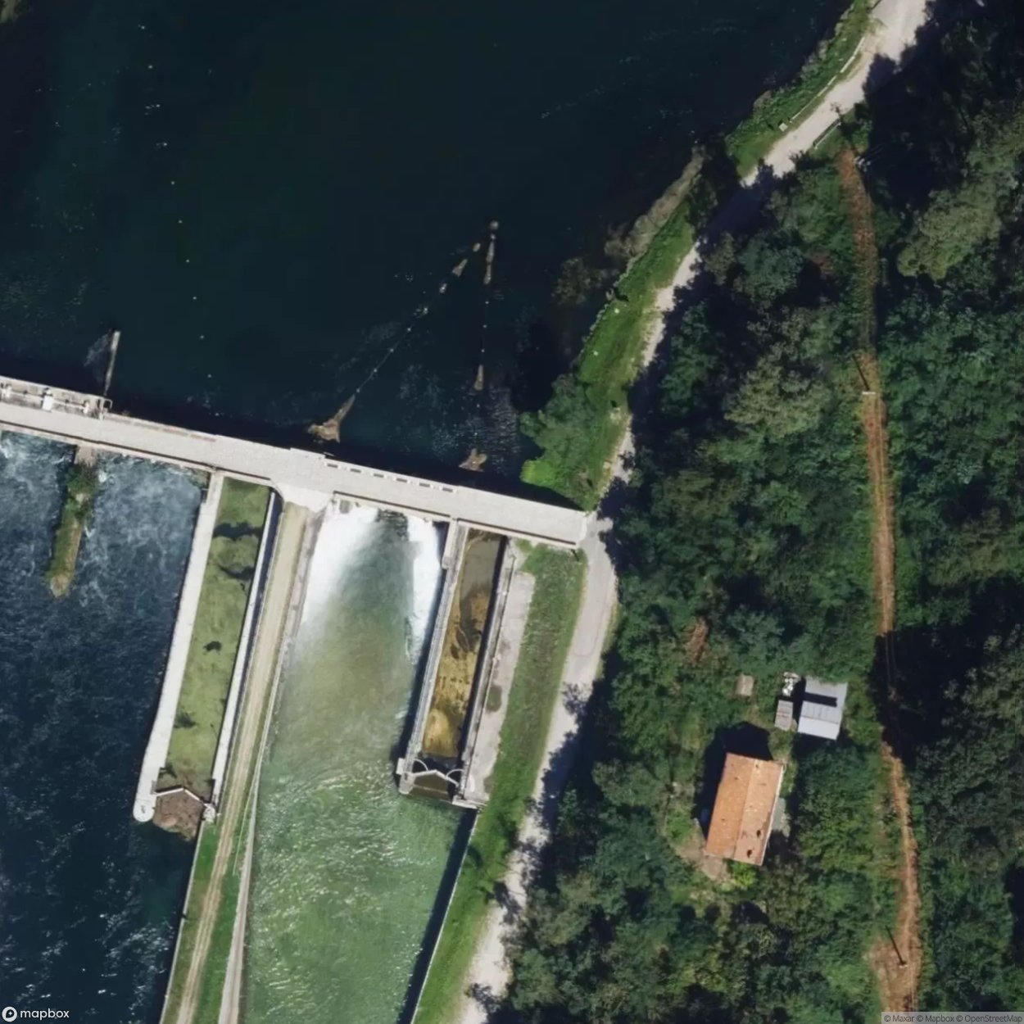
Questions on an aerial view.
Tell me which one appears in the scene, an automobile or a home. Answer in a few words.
home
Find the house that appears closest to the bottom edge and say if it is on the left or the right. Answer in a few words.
right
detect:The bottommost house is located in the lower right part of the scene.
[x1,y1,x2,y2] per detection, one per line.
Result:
[705,754,788,867]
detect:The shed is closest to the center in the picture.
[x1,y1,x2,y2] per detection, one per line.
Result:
[737,675,754,696]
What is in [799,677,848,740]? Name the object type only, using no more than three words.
shed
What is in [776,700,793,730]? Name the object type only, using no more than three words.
shed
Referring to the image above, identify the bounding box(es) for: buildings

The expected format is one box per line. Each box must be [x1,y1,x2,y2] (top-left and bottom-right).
[705,754,788,867]
[776,700,793,730]
[737,675,754,696]
[799,677,848,740]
